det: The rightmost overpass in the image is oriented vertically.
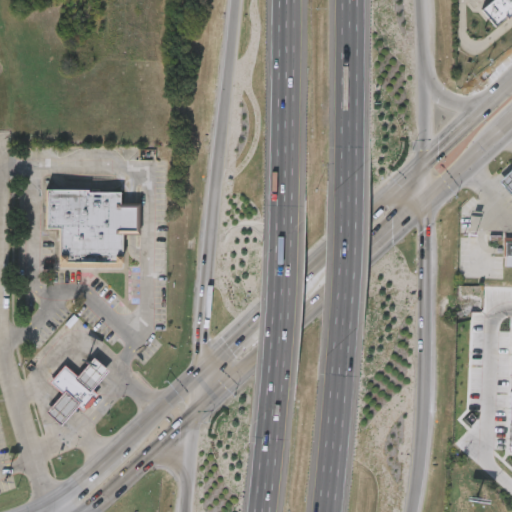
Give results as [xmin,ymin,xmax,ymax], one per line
[316,113,371,406]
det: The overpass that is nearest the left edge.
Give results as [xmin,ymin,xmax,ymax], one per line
[246,172,306,476]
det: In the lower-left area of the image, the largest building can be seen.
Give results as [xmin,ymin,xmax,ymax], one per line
[50,366,98,411]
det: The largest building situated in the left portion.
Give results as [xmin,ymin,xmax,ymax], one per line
[46,190,140,268]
